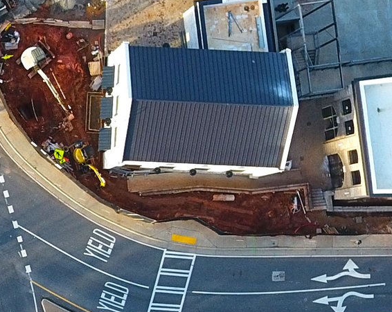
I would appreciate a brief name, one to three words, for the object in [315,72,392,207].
building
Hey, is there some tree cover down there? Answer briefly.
No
